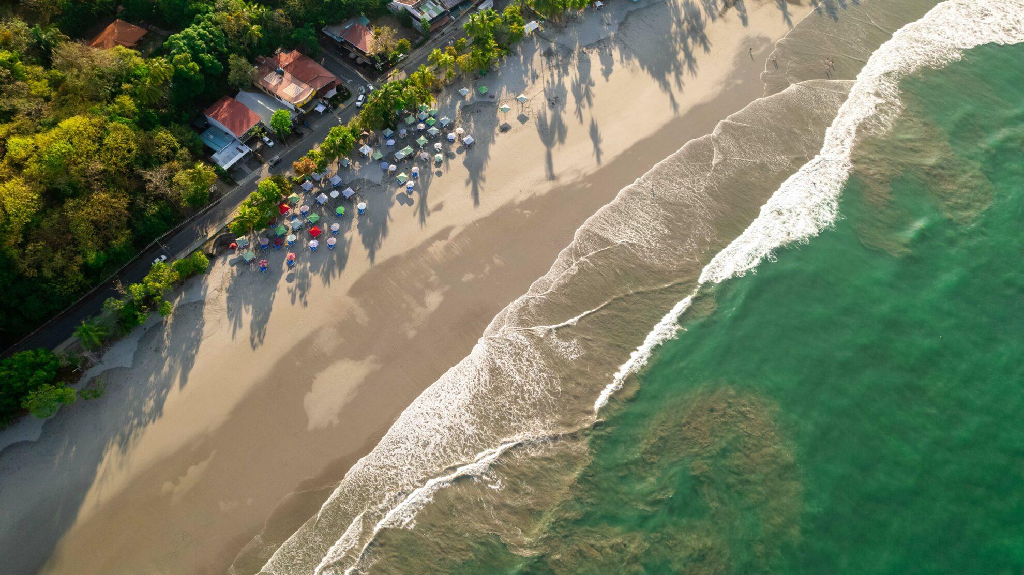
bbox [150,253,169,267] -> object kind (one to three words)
car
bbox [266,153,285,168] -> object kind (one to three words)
vehicle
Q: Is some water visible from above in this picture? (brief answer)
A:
Yes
